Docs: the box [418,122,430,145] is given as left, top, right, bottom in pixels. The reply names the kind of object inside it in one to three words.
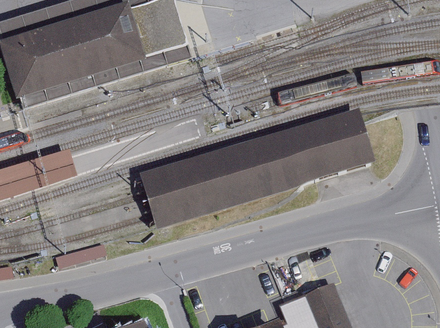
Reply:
vehicle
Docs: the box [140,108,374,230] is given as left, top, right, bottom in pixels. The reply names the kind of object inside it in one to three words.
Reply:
shed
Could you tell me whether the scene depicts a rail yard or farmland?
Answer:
rail yard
